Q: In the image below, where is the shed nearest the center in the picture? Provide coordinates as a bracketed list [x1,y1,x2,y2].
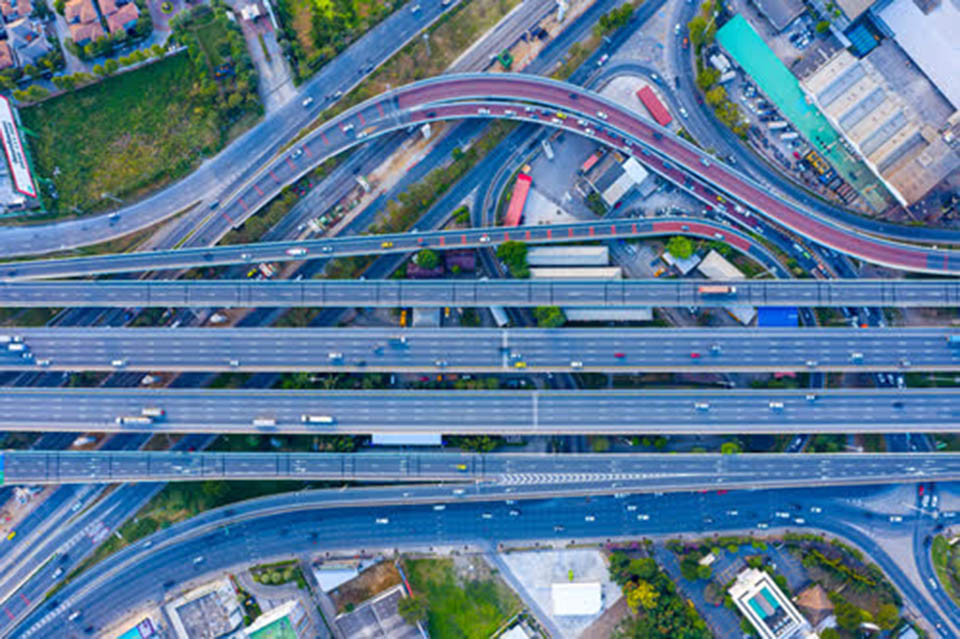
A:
[482,306,516,327]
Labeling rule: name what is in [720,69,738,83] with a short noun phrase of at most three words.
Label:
vehicle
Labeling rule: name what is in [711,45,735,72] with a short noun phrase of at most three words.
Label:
truck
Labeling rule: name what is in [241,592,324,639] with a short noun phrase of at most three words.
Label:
house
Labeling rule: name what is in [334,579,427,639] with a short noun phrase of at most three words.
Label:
building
